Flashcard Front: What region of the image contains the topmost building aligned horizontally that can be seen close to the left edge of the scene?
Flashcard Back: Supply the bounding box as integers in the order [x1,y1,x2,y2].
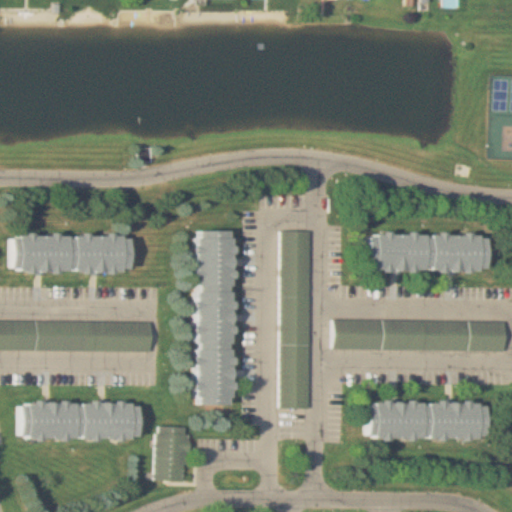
[7,234,136,274]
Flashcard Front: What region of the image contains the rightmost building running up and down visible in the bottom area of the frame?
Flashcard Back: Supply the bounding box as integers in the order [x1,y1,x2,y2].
[277,231,310,408]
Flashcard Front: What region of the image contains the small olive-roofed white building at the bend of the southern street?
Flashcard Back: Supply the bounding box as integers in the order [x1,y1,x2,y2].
[146,427,187,482]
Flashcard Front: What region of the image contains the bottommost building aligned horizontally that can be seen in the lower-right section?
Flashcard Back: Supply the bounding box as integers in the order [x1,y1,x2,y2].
[362,401,492,442]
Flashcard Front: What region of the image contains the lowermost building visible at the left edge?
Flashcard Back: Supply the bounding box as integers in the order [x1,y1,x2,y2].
[15,401,144,442]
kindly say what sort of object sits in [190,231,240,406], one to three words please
building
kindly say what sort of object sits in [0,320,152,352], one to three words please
building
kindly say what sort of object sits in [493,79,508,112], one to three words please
sports court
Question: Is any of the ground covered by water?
Yes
